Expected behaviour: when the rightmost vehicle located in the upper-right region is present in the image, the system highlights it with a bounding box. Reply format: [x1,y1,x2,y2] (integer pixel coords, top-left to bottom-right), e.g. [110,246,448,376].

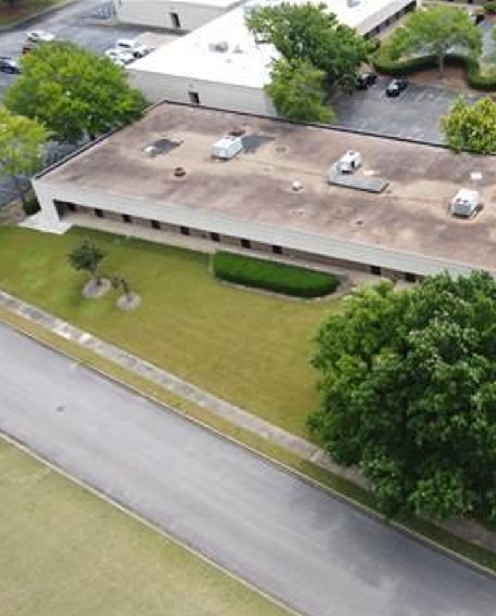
[384,82,408,100]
